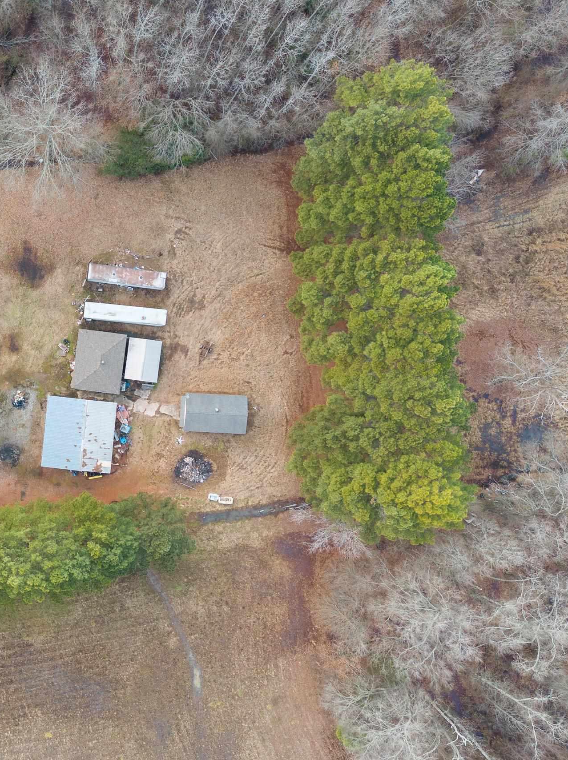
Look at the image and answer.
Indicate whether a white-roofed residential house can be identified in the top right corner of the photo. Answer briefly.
No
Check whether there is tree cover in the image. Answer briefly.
Yes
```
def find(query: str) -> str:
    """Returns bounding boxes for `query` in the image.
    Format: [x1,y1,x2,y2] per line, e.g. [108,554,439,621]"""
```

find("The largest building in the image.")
[41,395,117,473]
